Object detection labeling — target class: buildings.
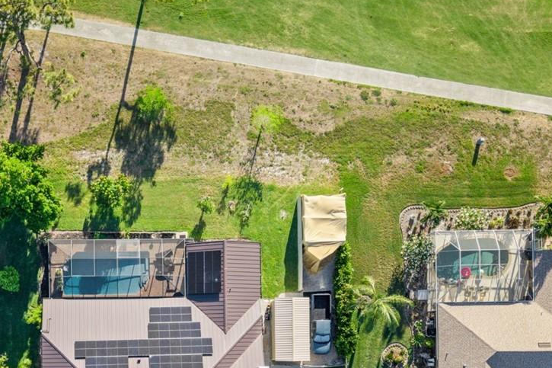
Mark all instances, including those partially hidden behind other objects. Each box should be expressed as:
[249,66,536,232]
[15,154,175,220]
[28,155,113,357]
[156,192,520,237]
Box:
[433,247,552,368]
[40,239,268,368]
[272,298,309,362]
